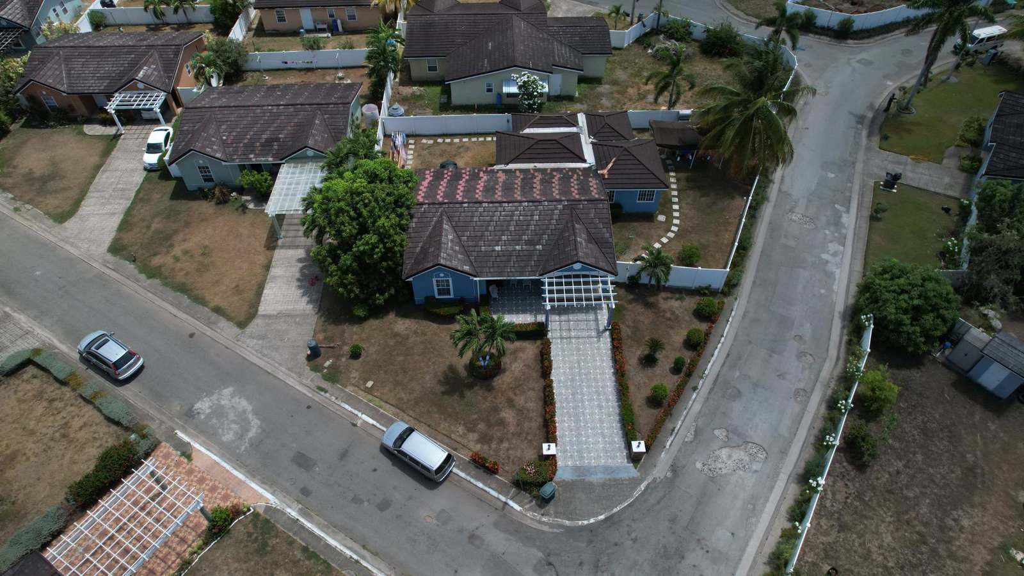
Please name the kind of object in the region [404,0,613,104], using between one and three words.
house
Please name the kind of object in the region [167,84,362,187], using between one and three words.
house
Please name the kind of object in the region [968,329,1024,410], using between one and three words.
shed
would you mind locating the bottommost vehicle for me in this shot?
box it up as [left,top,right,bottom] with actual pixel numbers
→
[383,424,464,485]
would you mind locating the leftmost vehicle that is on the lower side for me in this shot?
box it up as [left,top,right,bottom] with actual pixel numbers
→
[75,334,142,381]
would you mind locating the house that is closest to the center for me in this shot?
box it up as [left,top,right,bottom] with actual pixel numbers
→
[402,111,669,304]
